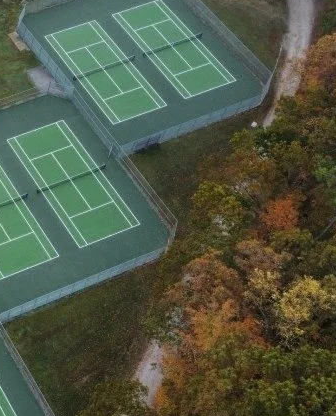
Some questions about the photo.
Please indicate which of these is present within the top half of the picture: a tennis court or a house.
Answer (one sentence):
Visible within the top half of the picture is a tennis court.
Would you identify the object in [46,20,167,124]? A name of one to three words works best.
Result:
tennis court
